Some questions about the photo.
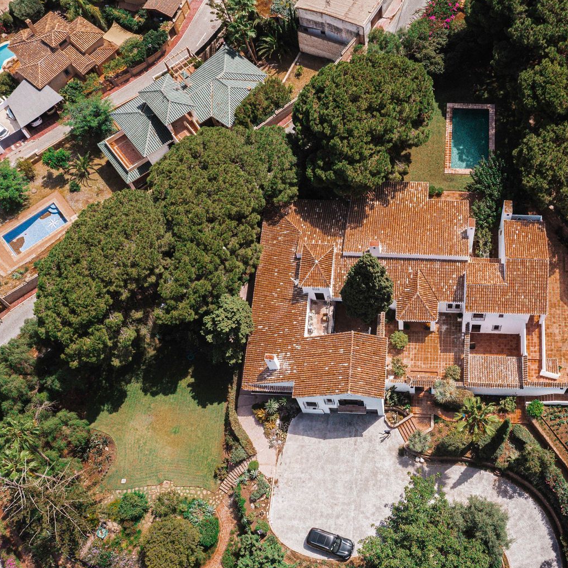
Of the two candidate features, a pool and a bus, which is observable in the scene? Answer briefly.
pool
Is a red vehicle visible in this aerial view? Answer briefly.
No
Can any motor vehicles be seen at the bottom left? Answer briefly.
No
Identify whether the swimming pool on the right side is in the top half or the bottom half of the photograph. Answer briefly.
top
